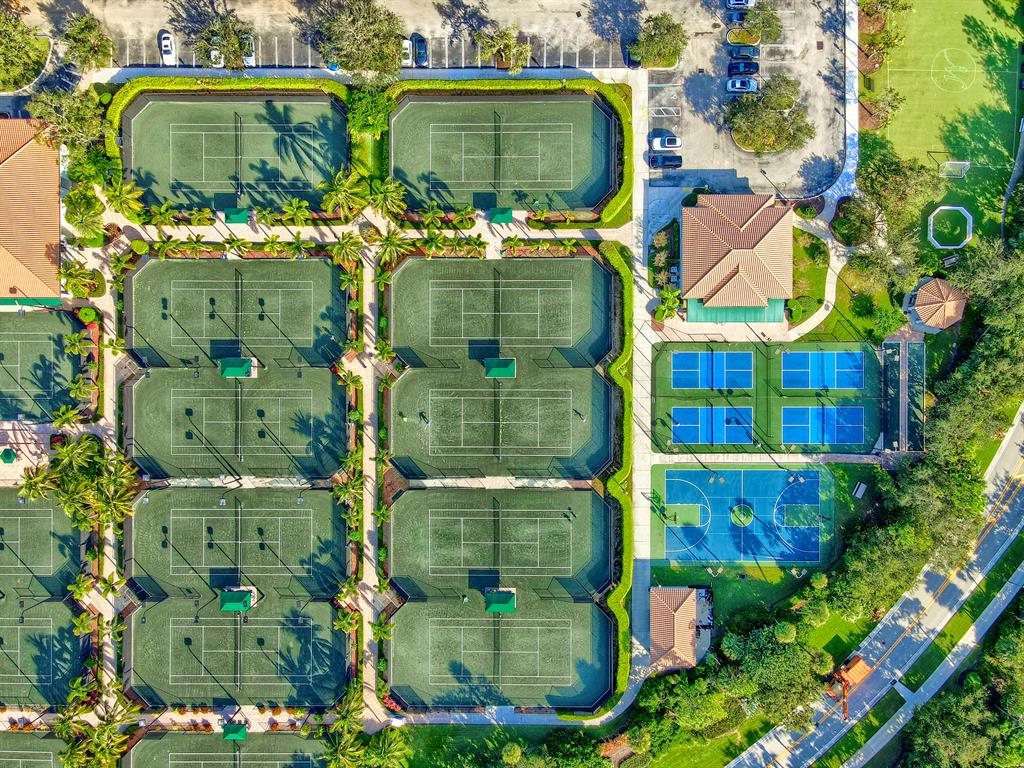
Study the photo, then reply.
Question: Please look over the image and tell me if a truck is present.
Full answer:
Yes, the frame does contain a truck.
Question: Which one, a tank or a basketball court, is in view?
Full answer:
This aerial view contains a basketball court.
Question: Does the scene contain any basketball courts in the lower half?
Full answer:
Yes, a basketball court appears in the lower half.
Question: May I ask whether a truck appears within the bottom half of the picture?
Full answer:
Yes, looking within the bottom half of the picture, one can make out a truck.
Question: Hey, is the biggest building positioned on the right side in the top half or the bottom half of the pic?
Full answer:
You can find the biggest building positioned on the right side in the top half.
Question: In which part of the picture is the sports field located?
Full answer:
Look in the top right portion of the view to spot the sports field.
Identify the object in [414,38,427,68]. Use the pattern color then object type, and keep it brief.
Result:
blue vehicle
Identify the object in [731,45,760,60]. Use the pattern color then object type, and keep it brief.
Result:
blue car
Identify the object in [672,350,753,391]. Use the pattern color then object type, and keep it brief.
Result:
blue sports court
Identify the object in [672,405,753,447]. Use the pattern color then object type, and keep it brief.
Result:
blue sports court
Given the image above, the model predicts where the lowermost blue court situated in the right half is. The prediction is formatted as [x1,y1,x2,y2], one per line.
[651,464,834,567]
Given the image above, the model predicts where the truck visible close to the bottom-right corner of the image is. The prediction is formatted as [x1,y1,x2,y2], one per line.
[824,655,873,721]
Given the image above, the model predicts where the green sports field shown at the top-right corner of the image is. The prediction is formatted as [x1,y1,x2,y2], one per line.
[863,0,1024,205]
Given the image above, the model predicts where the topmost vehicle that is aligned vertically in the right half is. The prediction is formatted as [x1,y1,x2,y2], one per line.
[628,40,641,69]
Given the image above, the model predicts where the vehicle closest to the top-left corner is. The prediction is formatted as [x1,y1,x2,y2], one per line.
[160,34,176,65]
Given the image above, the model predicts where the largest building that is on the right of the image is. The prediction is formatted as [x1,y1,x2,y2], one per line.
[681,194,793,322]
